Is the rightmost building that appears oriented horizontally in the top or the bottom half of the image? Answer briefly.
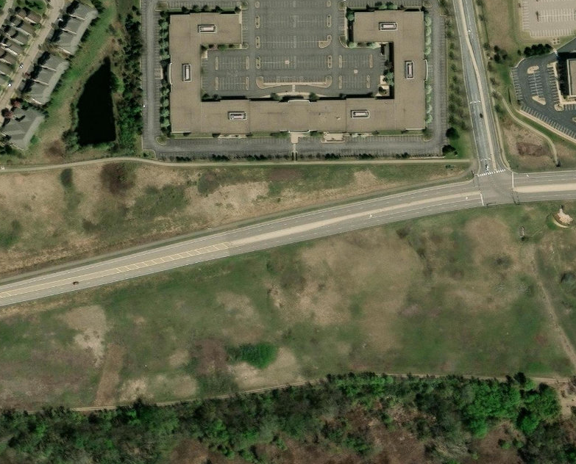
top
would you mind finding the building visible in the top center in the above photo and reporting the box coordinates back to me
[169,10,427,134]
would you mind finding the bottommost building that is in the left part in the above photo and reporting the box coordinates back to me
[2,108,45,148]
